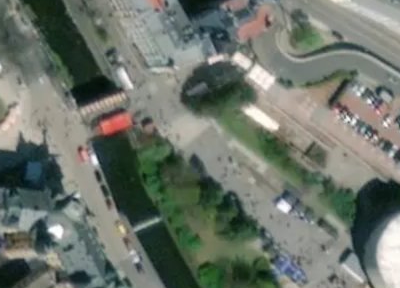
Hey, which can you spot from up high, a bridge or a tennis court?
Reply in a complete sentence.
Looking from above, you can make out a bridge.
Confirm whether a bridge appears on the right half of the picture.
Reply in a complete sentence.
No, the scene shows no bridge on the right half of the picture.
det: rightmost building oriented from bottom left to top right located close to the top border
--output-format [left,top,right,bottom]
[234,2,273,45]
